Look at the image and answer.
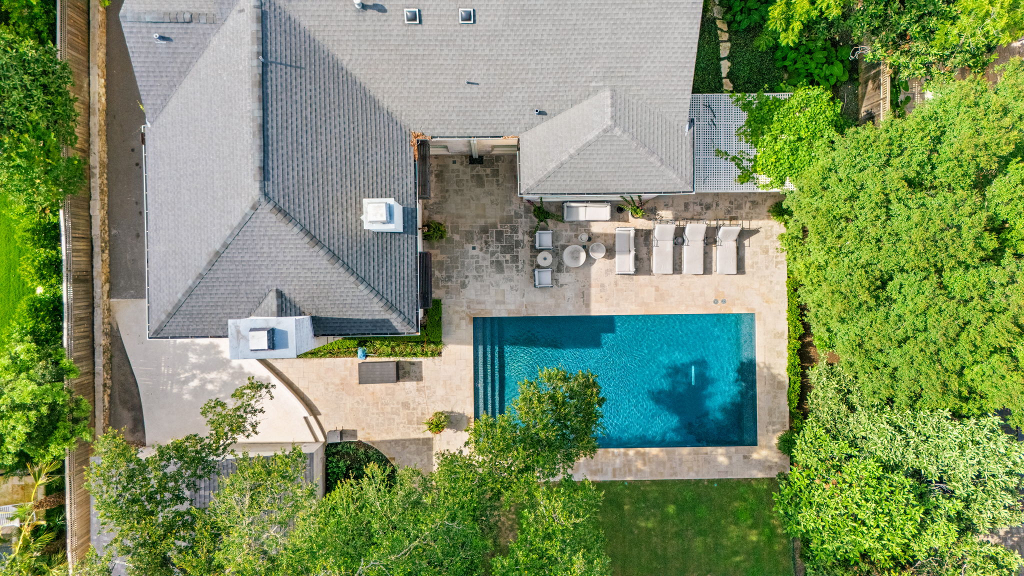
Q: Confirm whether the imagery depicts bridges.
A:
No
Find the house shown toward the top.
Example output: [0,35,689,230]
[118,0,703,358]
